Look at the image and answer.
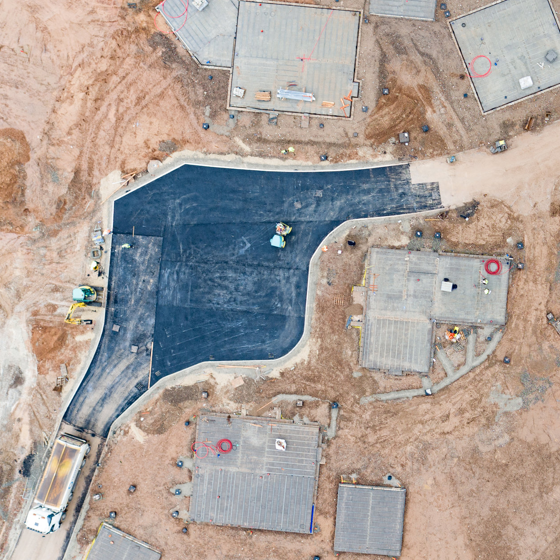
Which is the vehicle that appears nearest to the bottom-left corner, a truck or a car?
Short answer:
truck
